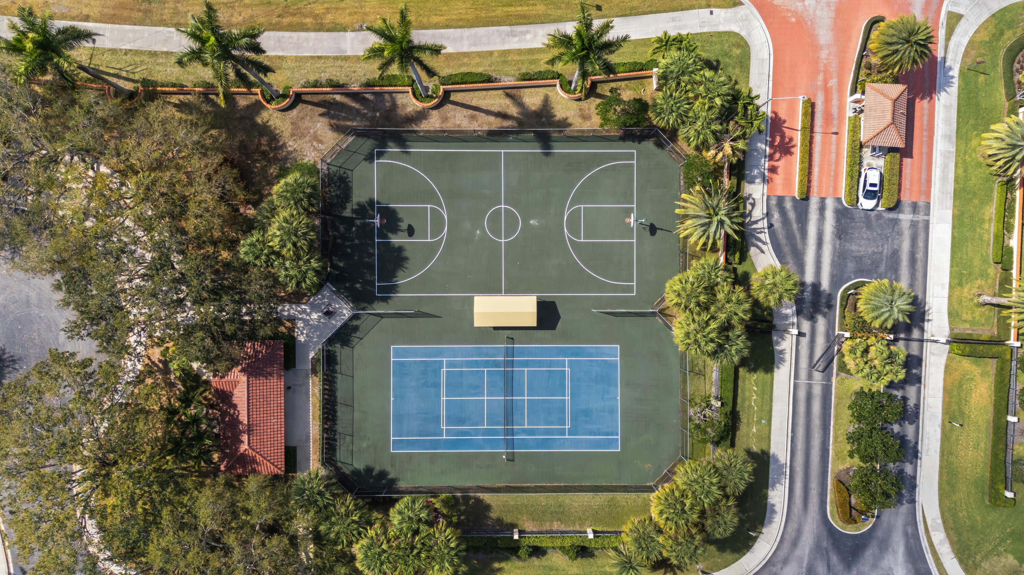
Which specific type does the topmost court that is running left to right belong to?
basketball court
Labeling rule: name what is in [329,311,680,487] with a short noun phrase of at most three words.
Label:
tennis court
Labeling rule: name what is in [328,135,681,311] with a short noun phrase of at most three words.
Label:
basketball court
